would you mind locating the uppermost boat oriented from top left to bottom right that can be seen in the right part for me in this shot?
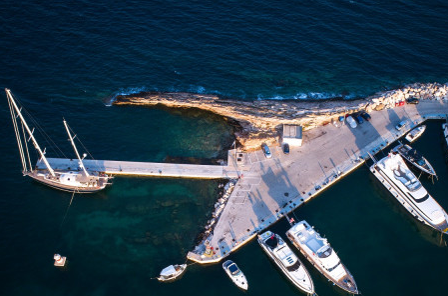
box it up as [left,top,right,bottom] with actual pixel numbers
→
[388,134,439,183]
